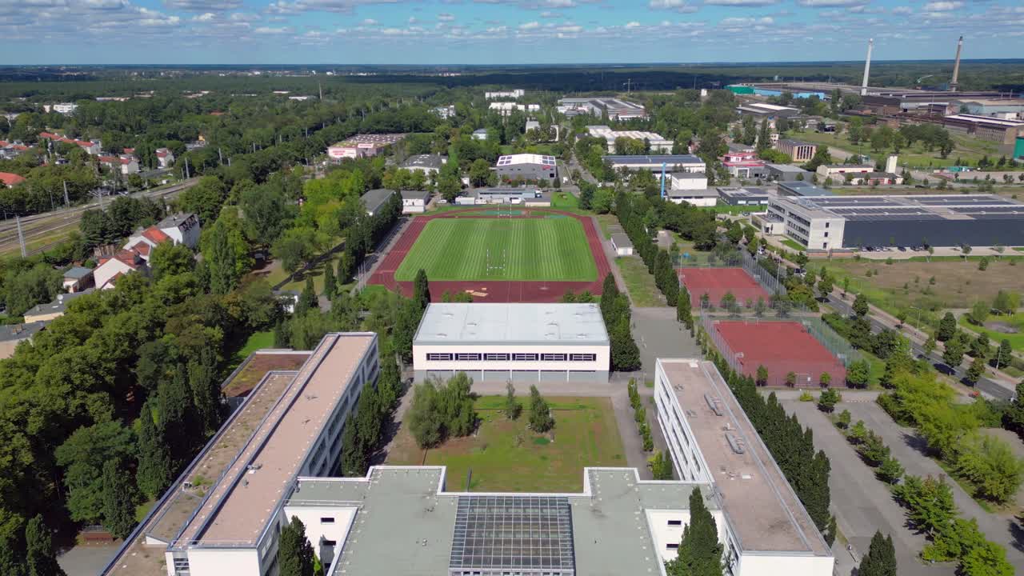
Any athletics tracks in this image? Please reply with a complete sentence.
Yes, the image includes an athletics track.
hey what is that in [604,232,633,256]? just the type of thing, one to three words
shed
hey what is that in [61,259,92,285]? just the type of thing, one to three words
house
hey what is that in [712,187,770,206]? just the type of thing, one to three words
building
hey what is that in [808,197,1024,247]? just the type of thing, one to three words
building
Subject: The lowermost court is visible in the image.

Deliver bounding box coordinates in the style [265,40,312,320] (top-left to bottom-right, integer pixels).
[717,321,861,386]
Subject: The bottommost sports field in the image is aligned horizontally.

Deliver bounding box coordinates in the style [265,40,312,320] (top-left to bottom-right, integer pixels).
[397,218,596,281]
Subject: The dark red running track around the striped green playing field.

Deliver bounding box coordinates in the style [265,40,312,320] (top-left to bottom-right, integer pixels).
[368,205,626,300]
